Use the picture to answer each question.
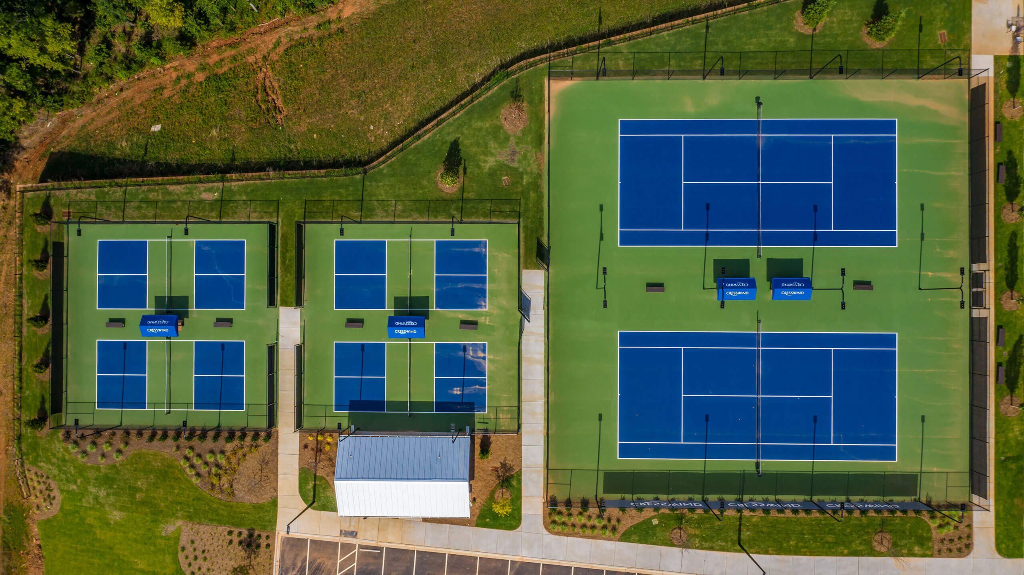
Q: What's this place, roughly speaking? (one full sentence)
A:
The area seen from above is a sports ground.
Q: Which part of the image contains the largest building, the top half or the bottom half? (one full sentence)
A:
You can find the largest building in the bottom half.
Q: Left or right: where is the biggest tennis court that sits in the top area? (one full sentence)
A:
The biggest tennis court that sits in the top area sits on the right side.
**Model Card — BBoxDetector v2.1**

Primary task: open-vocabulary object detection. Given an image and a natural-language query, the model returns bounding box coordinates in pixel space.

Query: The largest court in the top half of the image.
[547,78,970,289]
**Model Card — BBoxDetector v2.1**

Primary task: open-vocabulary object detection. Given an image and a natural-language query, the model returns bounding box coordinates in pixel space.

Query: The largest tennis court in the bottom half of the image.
[547,289,971,503]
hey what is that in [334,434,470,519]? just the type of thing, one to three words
building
